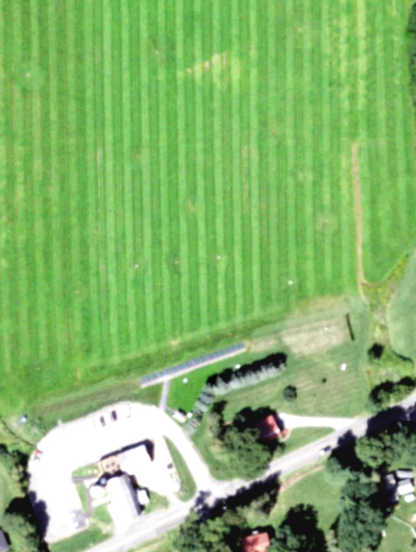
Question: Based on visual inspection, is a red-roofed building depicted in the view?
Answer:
Yes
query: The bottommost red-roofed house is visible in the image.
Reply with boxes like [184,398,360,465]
[242,533,271,552]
